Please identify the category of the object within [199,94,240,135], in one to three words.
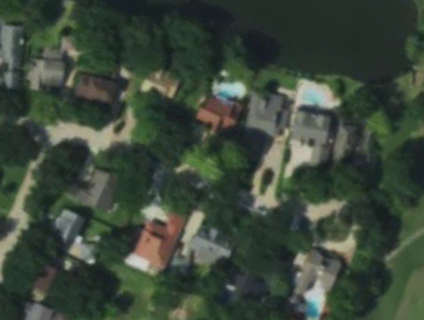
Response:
house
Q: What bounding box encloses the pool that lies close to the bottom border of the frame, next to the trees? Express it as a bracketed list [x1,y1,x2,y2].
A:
[304,281,327,320]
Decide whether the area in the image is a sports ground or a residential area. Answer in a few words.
residential area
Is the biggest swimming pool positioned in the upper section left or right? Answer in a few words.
right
